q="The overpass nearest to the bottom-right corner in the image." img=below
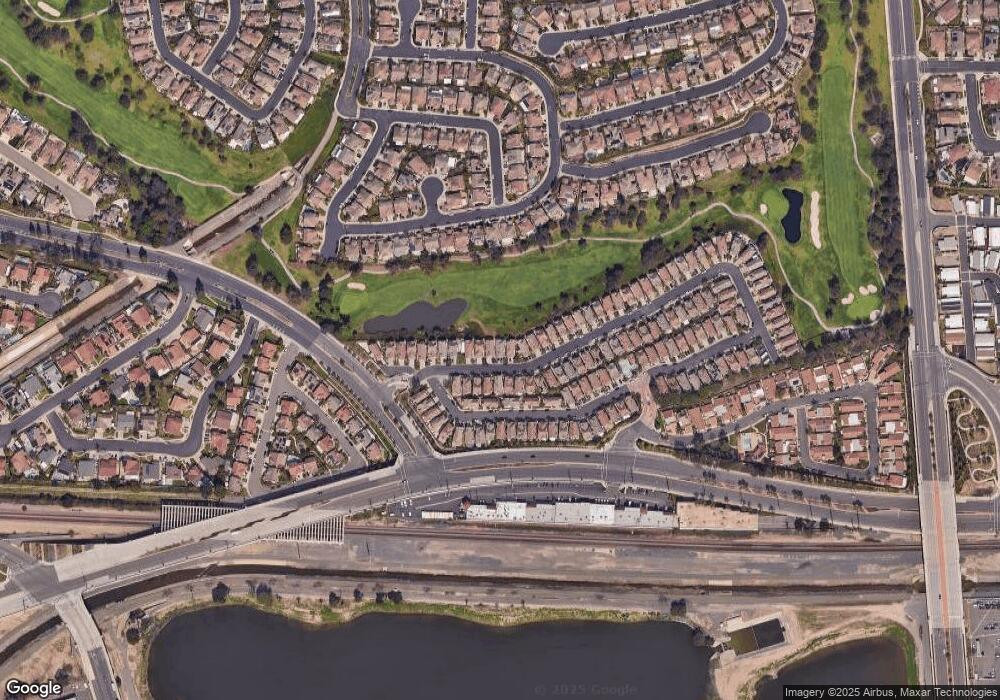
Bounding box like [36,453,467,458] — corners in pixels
[919,476,965,624]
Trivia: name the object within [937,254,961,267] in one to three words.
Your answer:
house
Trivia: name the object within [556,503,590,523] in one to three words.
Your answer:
building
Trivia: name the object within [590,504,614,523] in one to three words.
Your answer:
building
